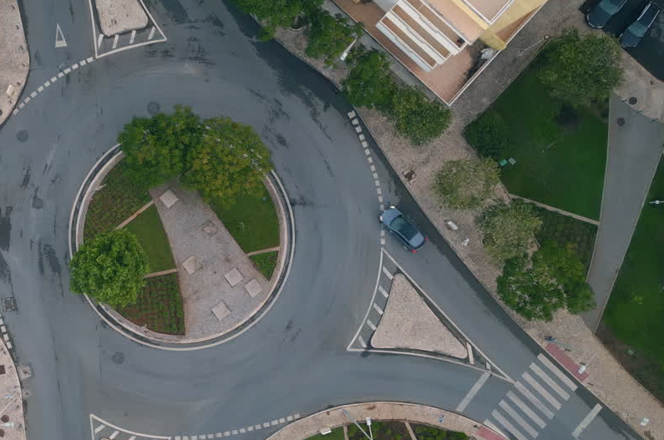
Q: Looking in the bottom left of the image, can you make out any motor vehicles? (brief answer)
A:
No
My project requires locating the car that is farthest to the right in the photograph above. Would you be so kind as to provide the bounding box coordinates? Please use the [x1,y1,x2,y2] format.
[617,0,664,51]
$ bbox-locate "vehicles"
[378,206,428,253]
[617,0,664,51]
[587,0,626,27]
